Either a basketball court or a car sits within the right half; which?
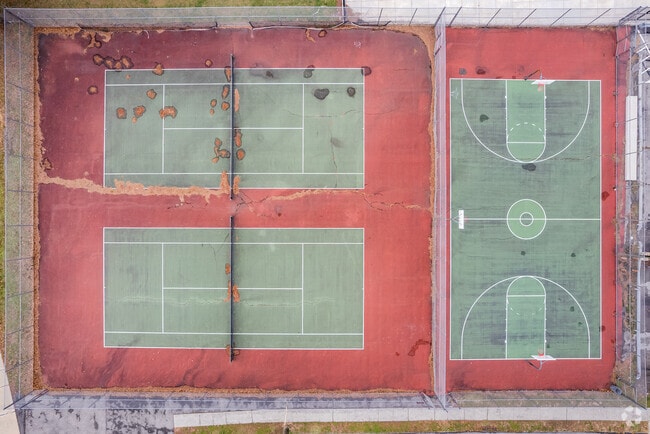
basketball court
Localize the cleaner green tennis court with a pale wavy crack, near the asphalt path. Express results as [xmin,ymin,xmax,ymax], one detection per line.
[103,228,364,350]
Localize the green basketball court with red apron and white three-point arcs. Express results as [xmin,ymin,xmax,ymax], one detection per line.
[435,27,632,391]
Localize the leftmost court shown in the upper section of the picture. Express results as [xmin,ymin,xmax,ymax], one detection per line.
[103,67,365,189]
